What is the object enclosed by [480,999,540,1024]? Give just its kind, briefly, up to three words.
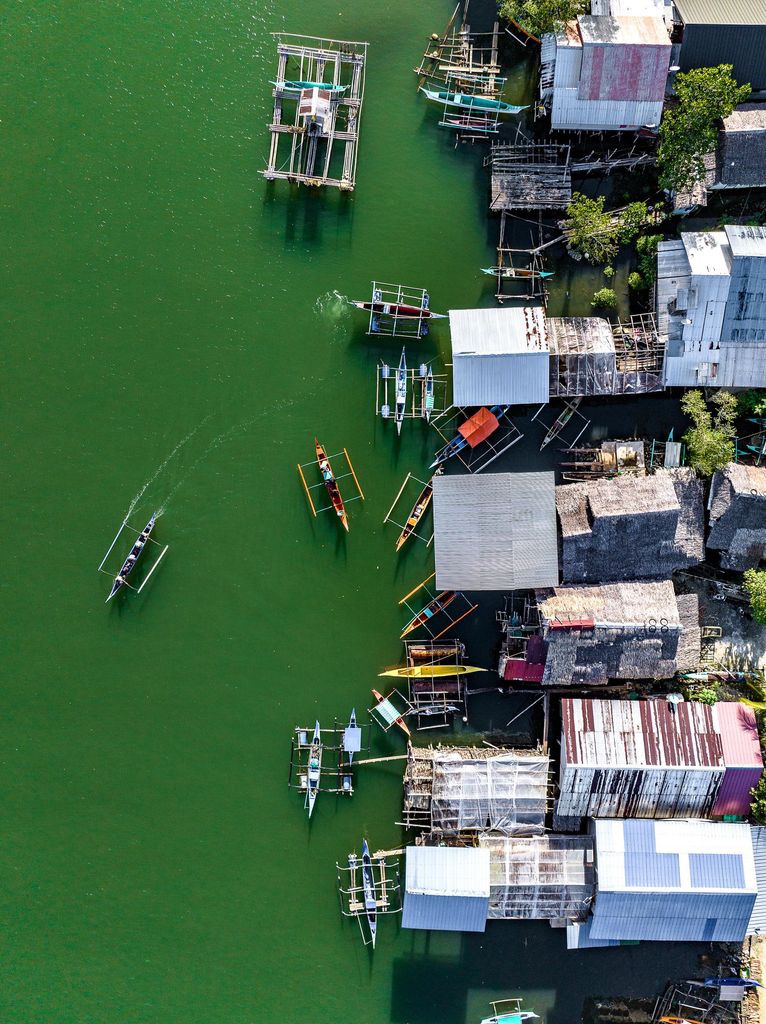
boat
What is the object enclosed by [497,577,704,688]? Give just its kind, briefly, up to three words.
house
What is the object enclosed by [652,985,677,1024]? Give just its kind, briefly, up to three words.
boat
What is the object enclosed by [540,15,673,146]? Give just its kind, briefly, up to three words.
house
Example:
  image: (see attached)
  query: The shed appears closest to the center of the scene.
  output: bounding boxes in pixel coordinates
[432,471,558,590]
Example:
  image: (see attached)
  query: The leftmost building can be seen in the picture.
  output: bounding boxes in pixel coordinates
[402,817,490,932]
